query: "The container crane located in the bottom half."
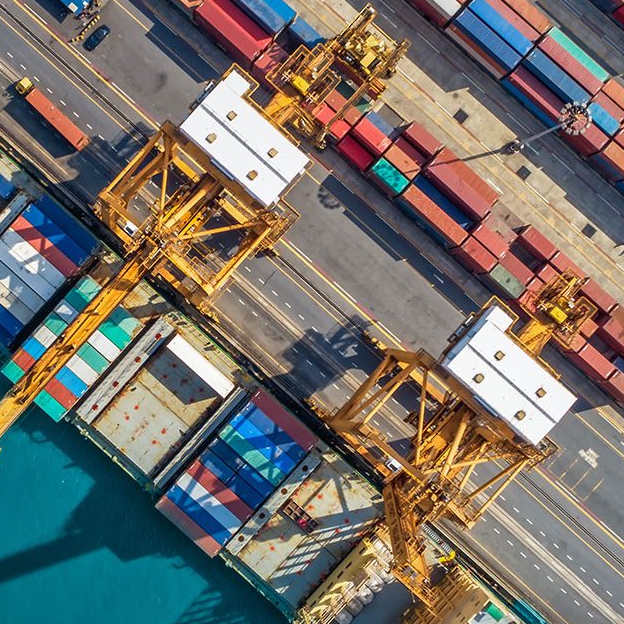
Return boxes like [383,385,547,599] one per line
[294,266,604,618]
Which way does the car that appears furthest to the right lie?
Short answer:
at an angle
